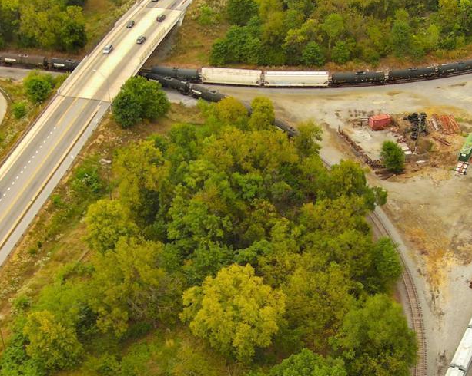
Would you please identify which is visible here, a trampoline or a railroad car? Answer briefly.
railroad car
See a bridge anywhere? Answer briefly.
Yes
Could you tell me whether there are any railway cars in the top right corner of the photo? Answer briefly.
Yes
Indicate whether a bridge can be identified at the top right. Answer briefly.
No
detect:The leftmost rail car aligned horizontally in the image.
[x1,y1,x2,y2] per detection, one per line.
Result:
[5,48,53,67]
